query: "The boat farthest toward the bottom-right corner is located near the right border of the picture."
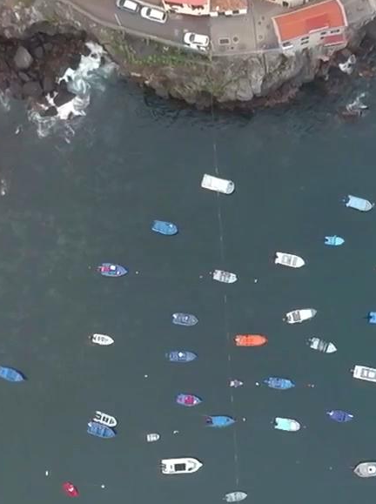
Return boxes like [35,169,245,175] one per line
[354,462,376,478]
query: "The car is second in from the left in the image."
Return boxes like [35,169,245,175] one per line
[138,4,167,23]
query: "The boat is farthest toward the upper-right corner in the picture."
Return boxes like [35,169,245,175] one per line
[341,194,375,210]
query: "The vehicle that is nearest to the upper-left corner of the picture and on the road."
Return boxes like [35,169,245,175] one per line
[113,0,141,13]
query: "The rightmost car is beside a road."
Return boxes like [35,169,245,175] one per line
[183,29,209,45]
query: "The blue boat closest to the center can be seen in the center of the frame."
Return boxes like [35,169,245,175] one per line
[150,219,178,234]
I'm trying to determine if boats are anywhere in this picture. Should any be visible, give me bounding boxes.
[86,334,113,345]
[90,409,117,426]
[94,263,128,276]
[262,377,293,389]
[341,194,375,210]
[270,251,305,266]
[0,365,23,380]
[175,394,202,406]
[201,174,233,192]
[363,311,376,323]
[324,235,345,245]
[162,351,195,361]
[229,380,242,386]
[203,416,235,428]
[304,336,336,351]
[354,462,376,478]
[269,417,300,430]
[147,433,159,441]
[156,458,203,475]
[220,492,246,503]
[62,480,77,495]
[347,365,376,381]
[213,270,238,282]
[230,334,267,346]
[82,421,114,435]
[150,219,178,234]
[166,312,198,324]
[280,310,316,324]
